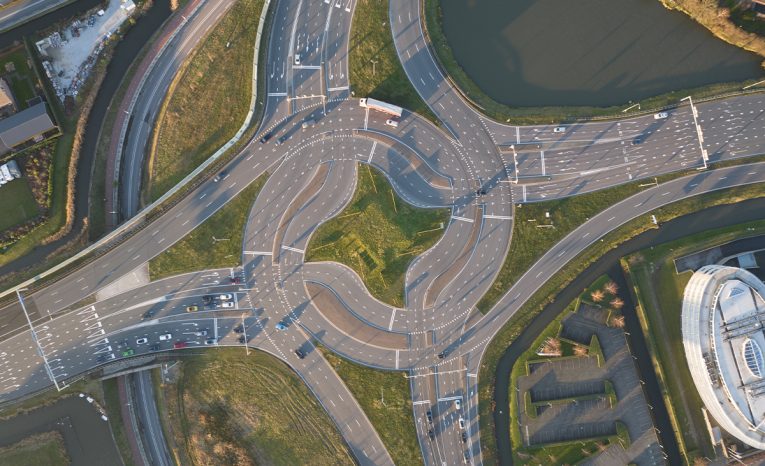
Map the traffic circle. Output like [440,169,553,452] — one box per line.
[229,92,532,380]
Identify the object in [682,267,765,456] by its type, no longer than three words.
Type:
building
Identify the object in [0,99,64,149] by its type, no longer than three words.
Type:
barn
